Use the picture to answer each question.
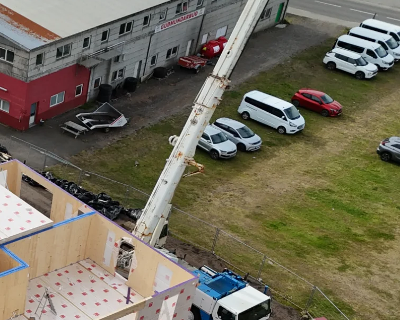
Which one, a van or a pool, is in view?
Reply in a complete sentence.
The one in the frame is a van.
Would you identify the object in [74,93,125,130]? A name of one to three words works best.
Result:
trailer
